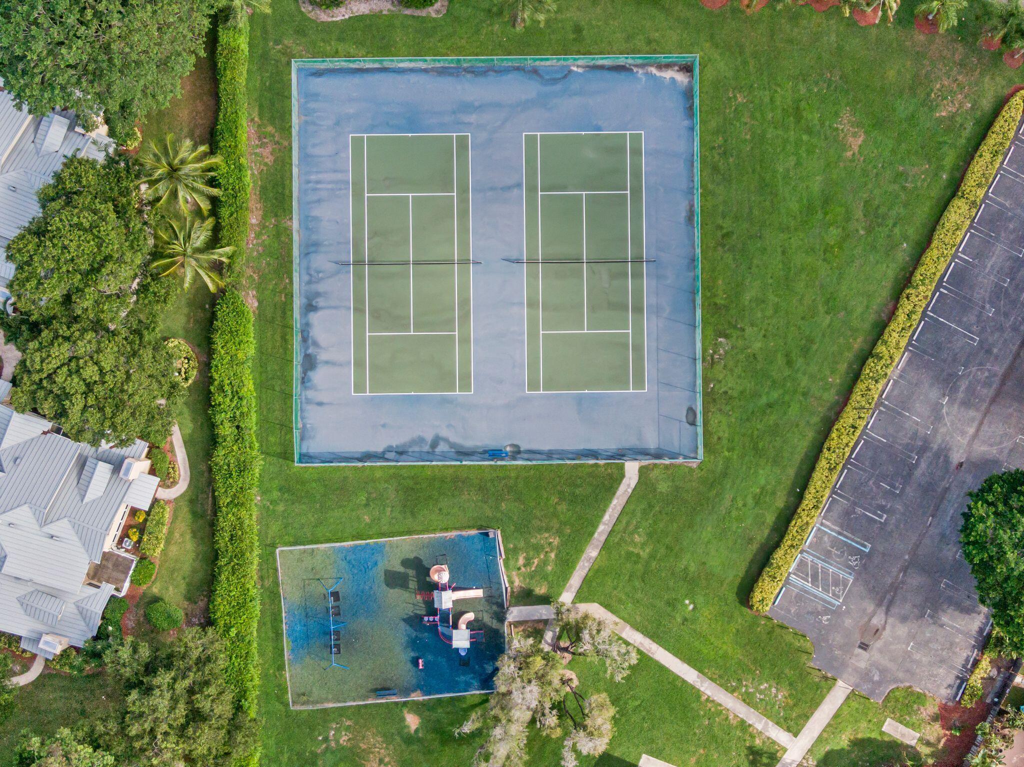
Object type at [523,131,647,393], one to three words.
tennis court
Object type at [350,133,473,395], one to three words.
tennis court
